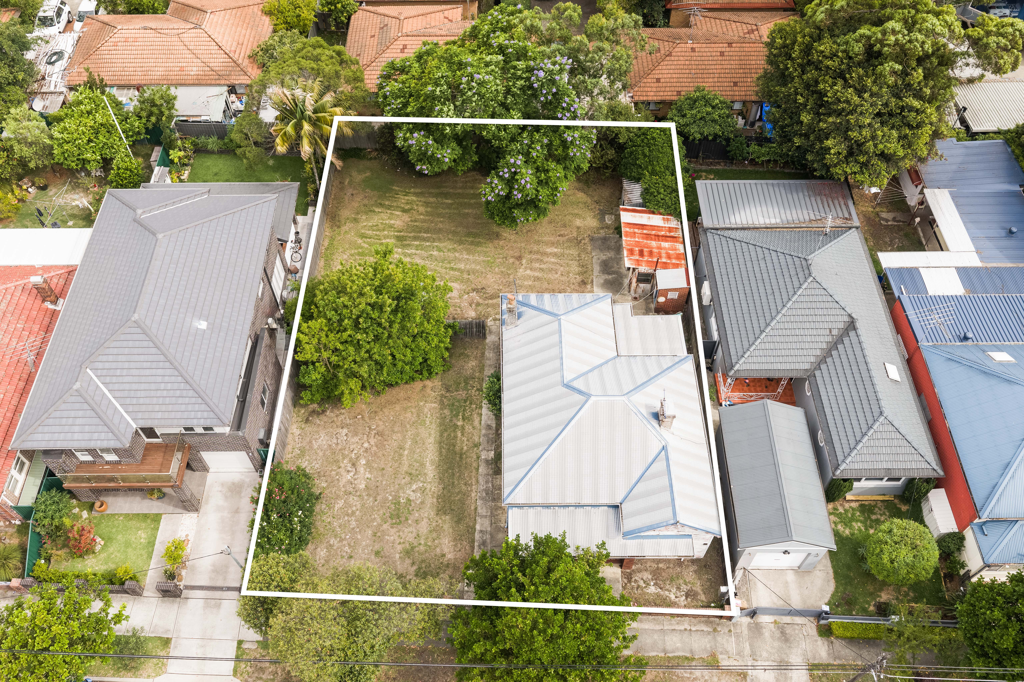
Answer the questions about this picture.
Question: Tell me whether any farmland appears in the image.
No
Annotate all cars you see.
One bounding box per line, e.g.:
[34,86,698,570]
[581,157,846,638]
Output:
[71,0,115,36]
[30,0,71,33]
